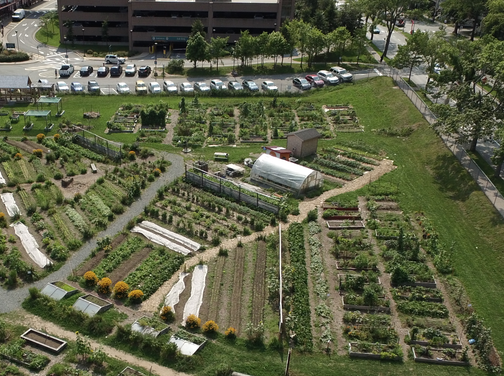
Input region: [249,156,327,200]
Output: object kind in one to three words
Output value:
greenhouse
